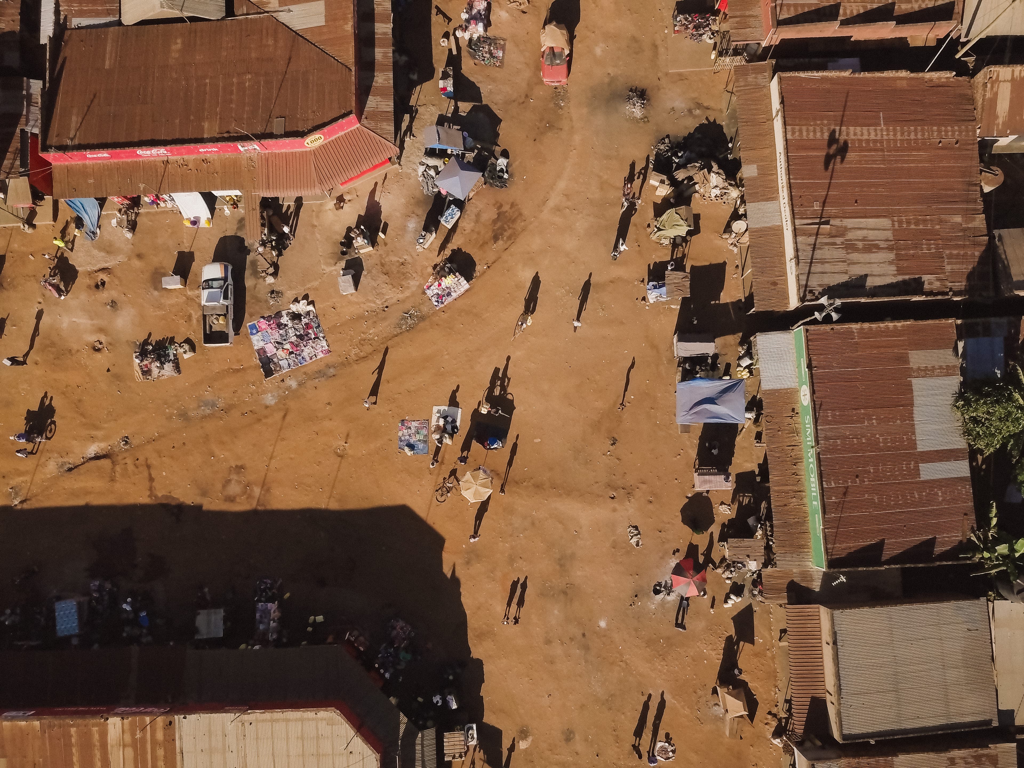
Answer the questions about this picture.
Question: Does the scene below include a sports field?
No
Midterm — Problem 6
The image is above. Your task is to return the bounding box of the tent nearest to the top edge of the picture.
[425,125,463,158]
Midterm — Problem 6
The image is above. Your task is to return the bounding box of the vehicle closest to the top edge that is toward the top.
[540,49,571,87]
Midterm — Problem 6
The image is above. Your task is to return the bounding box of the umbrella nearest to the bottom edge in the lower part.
[670,558,709,598]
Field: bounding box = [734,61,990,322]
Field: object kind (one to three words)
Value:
building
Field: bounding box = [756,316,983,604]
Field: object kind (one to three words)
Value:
building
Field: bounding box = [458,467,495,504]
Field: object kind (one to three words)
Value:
umbrella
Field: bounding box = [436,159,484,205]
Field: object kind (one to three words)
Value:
umbrella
